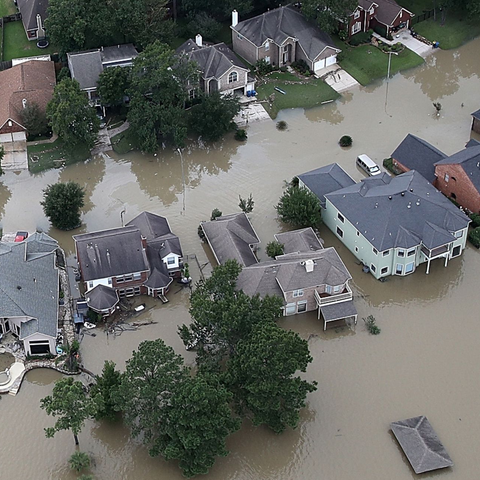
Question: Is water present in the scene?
Yes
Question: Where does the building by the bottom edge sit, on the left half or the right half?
right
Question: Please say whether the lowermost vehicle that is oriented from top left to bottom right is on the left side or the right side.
right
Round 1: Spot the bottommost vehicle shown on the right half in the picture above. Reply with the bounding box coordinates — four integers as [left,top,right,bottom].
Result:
[353,148,381,172]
